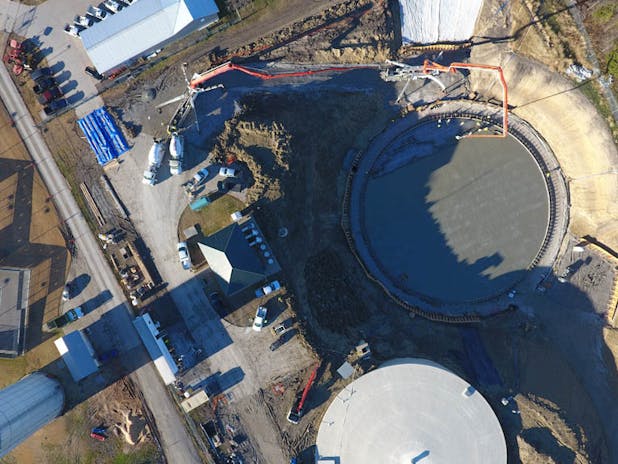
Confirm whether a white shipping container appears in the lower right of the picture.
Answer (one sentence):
No, no white shipping container appears in the lower right of the picture.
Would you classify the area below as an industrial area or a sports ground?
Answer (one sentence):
This image shows an industrial area.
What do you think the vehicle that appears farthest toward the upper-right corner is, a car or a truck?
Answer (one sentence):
The vehicle that appears farthest toward the upper-right corner can be classified as a truck.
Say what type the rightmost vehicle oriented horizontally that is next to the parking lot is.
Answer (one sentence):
The rightmost vehicle oriented horizontally that is next to the parking lot in the image is a truck.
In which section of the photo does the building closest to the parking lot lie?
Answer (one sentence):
The building closest to the parking lot is in the top left part of the image.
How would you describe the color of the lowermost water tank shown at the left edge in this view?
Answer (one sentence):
In this view, the lowermost water tank shown at the left edge is blue.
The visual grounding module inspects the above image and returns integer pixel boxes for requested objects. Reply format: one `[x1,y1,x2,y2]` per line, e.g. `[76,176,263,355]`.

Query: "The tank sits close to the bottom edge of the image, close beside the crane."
[317,352,507,464]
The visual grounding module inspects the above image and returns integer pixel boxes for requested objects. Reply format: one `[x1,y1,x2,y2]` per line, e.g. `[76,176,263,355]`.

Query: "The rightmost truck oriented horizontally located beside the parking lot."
[153,60,384,136]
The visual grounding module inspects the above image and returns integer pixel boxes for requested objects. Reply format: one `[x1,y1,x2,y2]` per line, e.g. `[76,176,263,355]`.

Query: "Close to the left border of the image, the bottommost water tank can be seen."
[0,371,68,459]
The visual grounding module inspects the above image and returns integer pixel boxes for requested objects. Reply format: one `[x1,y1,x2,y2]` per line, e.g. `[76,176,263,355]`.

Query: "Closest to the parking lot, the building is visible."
[77,0,218,81]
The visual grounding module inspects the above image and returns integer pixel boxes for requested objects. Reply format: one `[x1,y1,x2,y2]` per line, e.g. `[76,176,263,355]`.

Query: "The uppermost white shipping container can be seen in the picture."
[181,385,212,413]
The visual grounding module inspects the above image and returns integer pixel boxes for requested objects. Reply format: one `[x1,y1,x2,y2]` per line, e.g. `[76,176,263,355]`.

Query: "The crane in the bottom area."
[287,364,318,425]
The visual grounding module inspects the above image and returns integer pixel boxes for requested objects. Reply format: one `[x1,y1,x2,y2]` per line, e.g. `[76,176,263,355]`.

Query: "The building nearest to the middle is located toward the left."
[198,221,268,297]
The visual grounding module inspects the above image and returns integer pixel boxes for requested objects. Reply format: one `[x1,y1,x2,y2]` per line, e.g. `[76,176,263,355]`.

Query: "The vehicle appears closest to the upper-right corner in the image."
[387,49,509,140]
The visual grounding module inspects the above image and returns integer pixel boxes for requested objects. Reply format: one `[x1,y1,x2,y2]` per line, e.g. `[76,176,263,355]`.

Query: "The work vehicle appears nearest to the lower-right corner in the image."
[558,270,573,285]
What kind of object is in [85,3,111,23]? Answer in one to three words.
vehicle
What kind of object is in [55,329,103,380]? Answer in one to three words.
shed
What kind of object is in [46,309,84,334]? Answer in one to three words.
truck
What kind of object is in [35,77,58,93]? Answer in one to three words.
car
